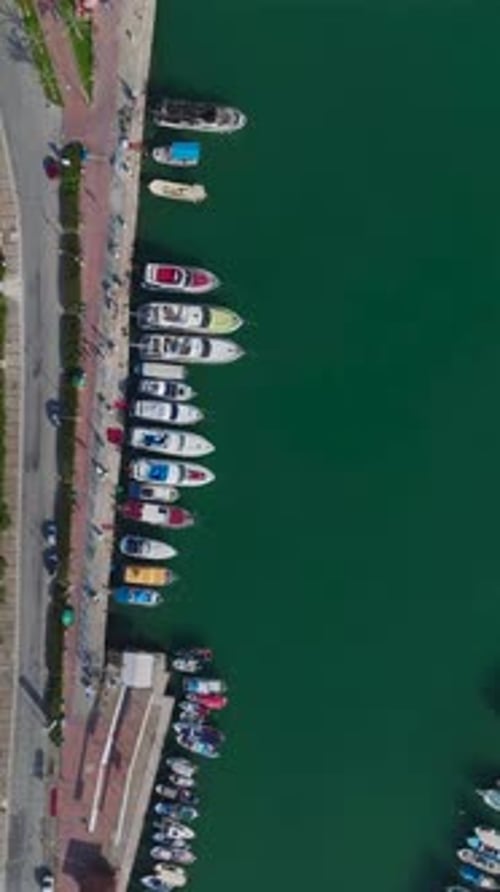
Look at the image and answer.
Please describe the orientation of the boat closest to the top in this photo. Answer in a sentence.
Seen from above, the boat closest to the top lies horizontally.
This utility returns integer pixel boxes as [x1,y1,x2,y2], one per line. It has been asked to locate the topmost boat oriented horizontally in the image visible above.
[145,100,256,132]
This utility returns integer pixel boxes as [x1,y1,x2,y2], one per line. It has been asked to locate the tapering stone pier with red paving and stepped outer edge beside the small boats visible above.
[57,651,176,892]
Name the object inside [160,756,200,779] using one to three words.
boat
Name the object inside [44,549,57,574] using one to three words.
vehicle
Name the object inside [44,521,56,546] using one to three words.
vehicle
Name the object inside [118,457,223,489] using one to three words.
boat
